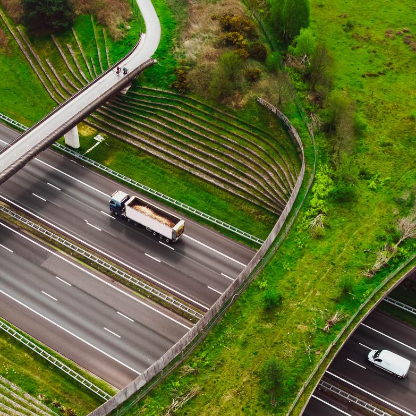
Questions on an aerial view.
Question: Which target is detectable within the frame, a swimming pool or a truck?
truck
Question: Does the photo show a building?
No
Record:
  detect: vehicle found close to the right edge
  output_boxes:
[367,351,413,381]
